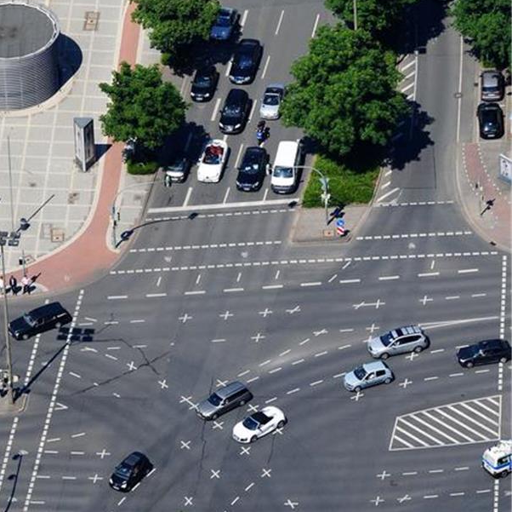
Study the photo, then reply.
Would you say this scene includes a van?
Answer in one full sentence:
Yes, there's a van here.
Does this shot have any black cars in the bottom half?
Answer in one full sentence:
Yes, a black car shows up in the bottom half.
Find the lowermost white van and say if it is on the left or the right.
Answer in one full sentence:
The lowermost white van is on the right side of the image.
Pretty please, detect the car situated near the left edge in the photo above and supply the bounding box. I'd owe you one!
[6,297,74,342]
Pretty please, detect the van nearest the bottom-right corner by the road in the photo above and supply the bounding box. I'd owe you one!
[479,441,512,480]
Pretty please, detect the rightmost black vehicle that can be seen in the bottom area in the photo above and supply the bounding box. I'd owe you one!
[455,336,512,371]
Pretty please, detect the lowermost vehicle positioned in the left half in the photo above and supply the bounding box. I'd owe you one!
[108,448,155,491]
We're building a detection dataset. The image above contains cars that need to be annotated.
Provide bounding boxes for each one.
[341,358,397,395]
[455,336,512,371]
[235,147,267,190]
[477,101,505,137]
[257,79,286,123]
[365,323,433,359]
[478,64,507,104]
[229,39,261,82]
[108,448,155,491]
[163,142,194,182]
[219,89,251,132]
[189,61,219,102]
[196,140,227,179]
[210,2,239,41]
[229,403,290,443]
[6,297,74,342]
[195,376,255,422]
